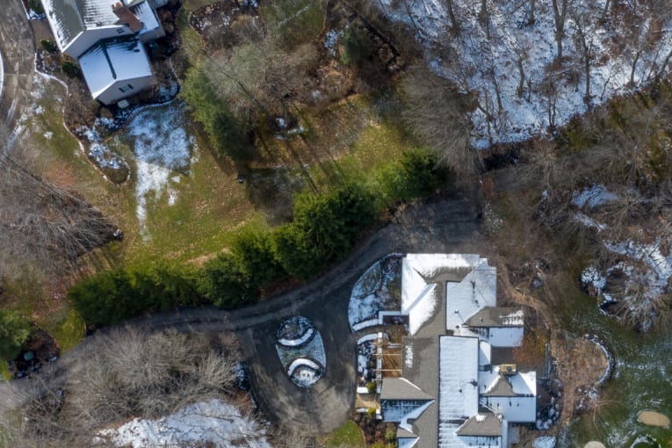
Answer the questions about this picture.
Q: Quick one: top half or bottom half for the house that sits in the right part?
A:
bottom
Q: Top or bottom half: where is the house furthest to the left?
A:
top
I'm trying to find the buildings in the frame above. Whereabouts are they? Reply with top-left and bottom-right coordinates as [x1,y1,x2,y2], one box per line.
[40,0,167,101]
[380,254,536,448]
